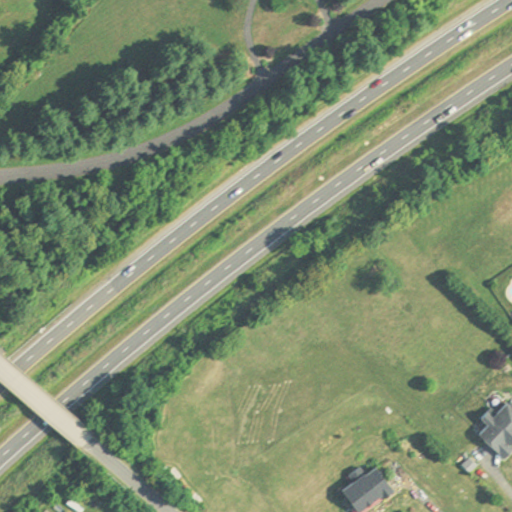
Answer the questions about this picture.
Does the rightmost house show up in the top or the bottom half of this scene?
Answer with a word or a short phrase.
bottom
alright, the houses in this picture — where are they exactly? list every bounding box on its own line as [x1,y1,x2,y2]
[342,468,392,512]
[480,404,512,459]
